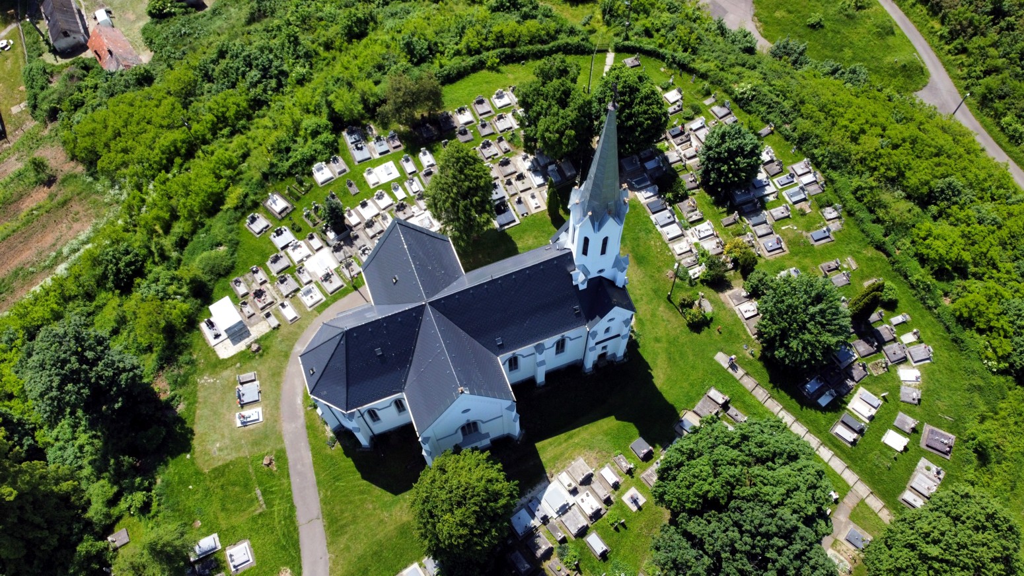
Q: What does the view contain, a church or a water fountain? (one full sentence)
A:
Looking from above, you can make out a church.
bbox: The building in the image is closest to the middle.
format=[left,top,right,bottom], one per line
[299,74,640,474]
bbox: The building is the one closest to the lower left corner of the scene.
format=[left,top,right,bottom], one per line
[209,296,249,339]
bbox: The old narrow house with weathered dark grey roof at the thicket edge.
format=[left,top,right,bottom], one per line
[38,0,91,58]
